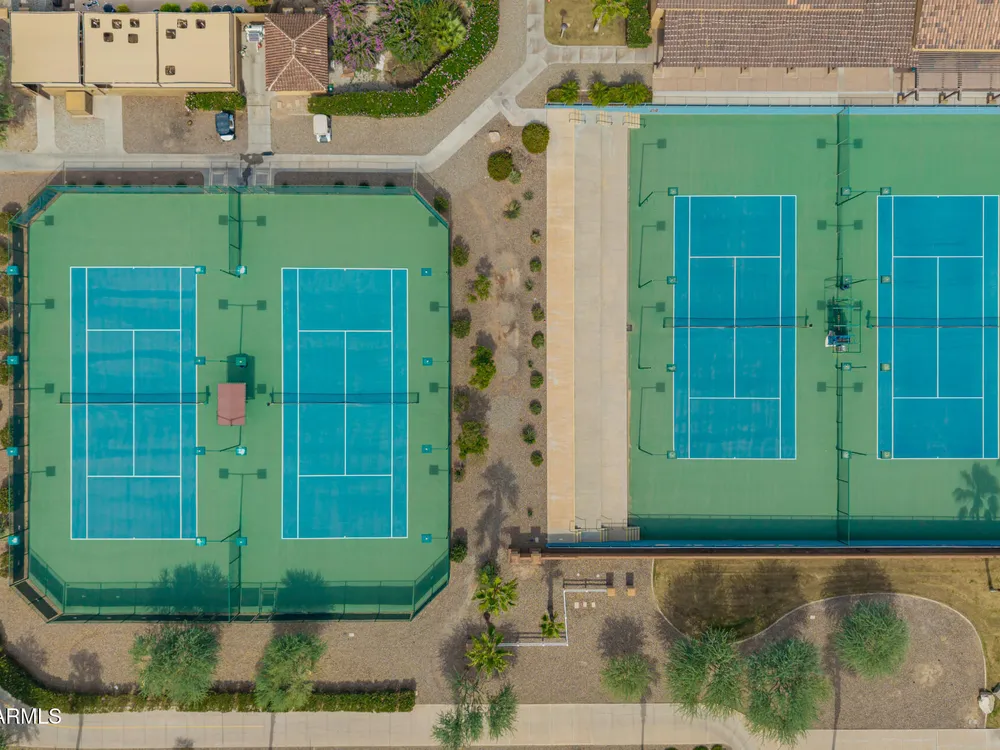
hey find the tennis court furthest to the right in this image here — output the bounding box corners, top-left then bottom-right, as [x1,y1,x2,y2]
[837,115,1000,540]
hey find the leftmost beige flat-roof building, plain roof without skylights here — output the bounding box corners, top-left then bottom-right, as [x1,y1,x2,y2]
[10,11,96,107]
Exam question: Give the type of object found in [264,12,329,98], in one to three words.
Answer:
building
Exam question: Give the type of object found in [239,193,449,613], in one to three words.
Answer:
tennis court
